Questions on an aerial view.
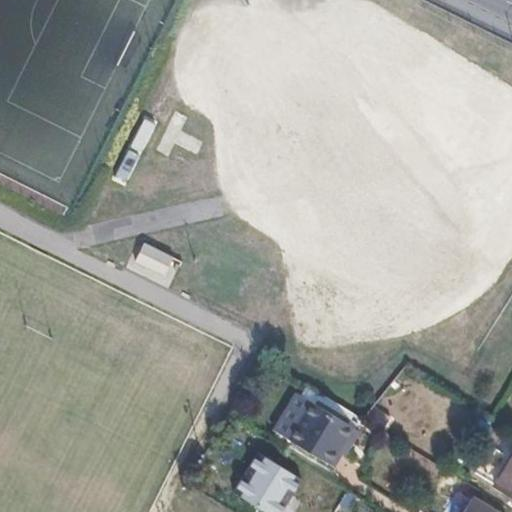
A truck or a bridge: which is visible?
truck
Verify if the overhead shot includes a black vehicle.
No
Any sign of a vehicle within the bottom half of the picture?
No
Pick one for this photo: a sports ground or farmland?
sports ground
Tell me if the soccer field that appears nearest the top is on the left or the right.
left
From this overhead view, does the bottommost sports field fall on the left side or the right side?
left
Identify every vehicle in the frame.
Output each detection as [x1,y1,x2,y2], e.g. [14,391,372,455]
[112,117,158,185]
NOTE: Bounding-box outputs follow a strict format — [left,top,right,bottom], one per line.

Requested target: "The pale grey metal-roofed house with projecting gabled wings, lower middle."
[236,458,302,512]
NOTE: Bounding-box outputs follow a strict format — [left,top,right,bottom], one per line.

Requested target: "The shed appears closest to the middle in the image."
[127,244,182,288]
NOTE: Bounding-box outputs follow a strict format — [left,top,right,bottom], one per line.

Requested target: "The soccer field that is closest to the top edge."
[0,0,182,208]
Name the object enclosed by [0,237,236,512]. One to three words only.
sports field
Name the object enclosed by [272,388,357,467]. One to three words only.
house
